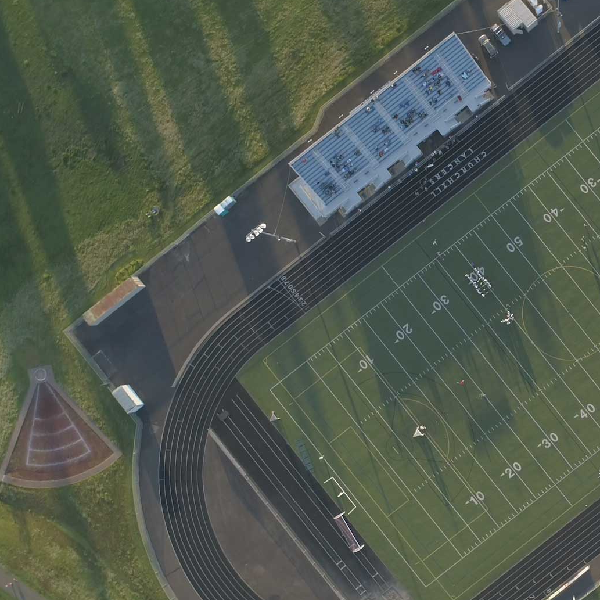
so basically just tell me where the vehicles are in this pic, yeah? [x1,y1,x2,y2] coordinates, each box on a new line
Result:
[479,34,499,59]
[490,21,512,49]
